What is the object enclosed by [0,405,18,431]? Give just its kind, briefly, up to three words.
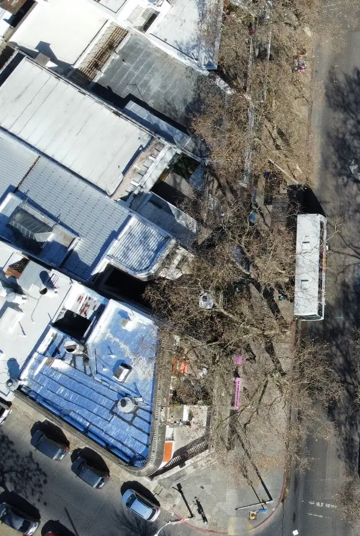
car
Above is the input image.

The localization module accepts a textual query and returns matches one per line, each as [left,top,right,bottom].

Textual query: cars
[0,405,18,431]
[65,449,110,488]
[25,425,70,462]
[117,488,160,526]
[0,497,40,536]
